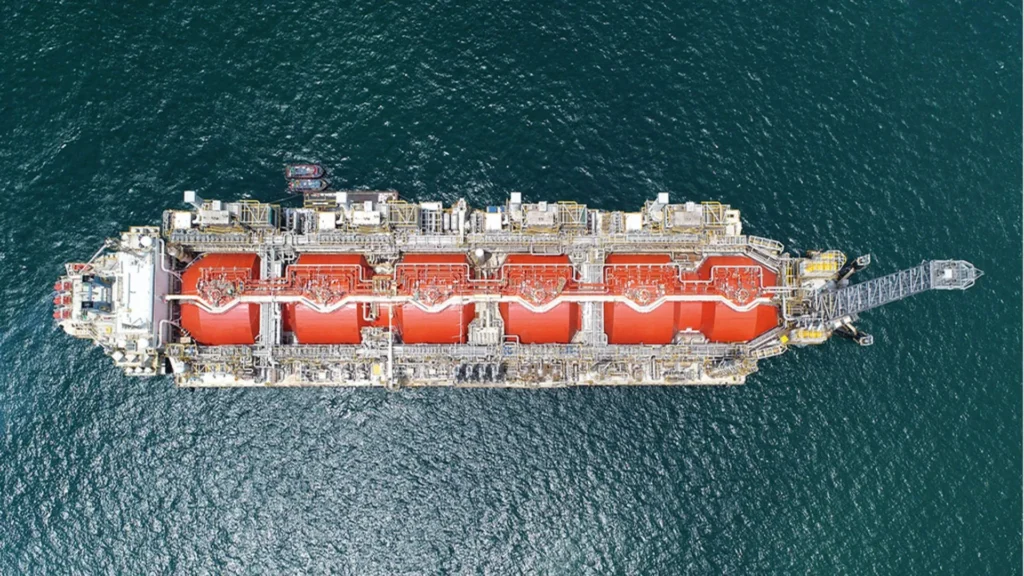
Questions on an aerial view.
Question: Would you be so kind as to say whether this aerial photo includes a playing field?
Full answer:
No, the scene contains no playing field.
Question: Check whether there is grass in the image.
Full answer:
No, the scene doesn't show any grass.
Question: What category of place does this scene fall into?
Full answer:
The picture captures an industrial area.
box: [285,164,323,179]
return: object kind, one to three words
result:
boat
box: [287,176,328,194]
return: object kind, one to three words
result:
boat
